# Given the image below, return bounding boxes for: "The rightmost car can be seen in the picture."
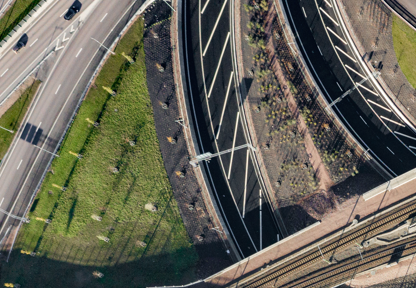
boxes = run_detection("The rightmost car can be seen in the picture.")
[62,3,78,19]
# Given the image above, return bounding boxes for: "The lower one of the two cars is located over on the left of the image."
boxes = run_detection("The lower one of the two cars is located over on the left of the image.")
[10,39,24,53]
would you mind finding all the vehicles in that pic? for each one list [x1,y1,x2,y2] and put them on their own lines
[10,39,24,53]
[62,3,78,19]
